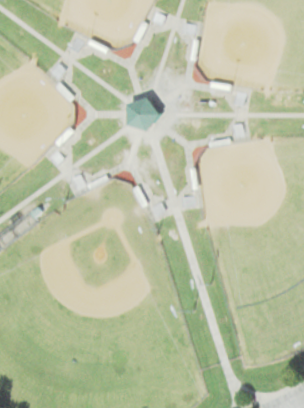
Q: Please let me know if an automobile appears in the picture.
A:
No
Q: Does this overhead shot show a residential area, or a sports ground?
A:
sports ground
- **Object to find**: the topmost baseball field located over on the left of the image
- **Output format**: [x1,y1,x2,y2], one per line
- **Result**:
[28,0,155,50]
